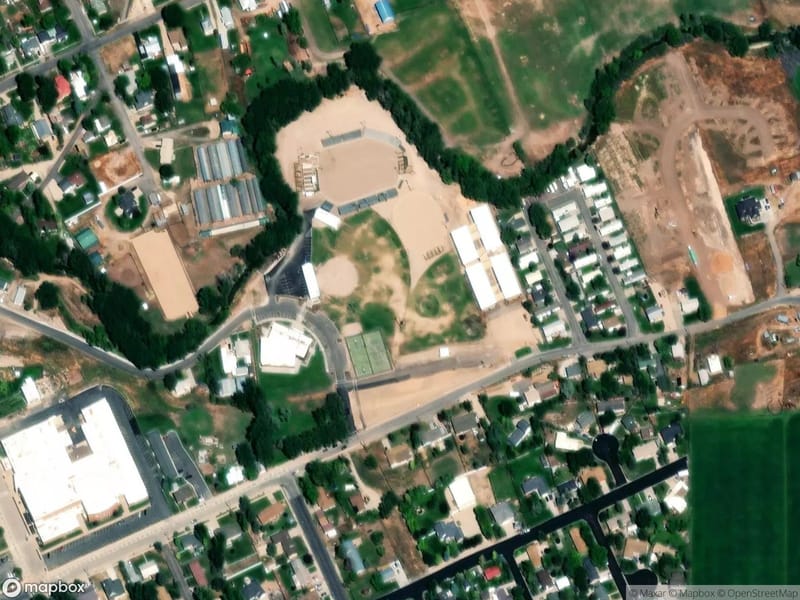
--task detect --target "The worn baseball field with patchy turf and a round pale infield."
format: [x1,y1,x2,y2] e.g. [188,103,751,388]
[312,208,410,352]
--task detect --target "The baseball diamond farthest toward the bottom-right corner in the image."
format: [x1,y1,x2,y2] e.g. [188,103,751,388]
[398,252,484,354]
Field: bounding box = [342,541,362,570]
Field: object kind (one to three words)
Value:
house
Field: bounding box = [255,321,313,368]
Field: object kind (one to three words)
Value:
building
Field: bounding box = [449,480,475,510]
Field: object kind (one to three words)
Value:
barn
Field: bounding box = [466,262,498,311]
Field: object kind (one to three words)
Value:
building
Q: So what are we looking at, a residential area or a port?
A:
residential area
